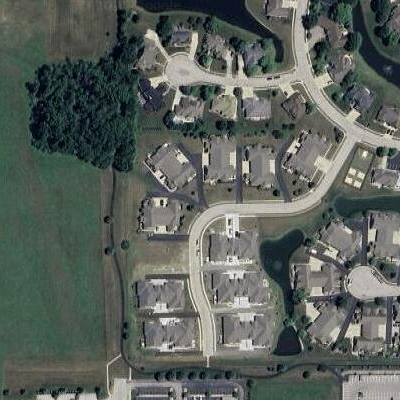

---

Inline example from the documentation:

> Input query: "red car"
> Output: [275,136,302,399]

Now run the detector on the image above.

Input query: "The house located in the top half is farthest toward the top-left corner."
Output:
[140,44,158,70]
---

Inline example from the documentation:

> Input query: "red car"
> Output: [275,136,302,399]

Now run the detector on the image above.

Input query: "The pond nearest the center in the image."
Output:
[260,227,306,318]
